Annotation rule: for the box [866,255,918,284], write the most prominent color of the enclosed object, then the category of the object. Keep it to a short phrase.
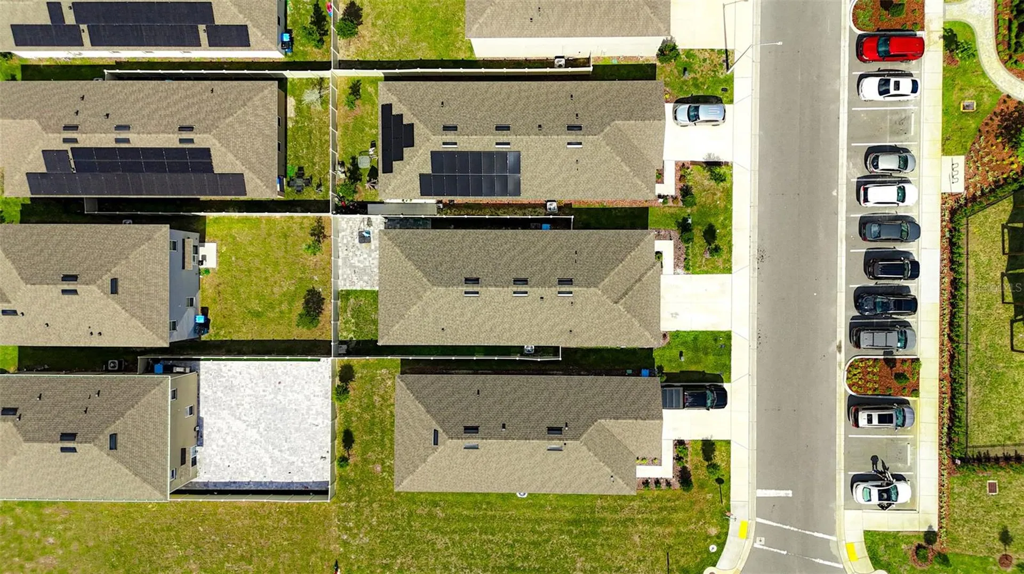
black car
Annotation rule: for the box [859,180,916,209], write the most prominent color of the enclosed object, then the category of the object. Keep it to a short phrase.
white car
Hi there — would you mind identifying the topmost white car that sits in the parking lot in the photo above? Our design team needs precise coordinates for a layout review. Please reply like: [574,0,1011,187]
[857,73,916,102]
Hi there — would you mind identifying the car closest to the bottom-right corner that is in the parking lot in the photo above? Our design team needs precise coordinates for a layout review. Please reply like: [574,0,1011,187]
[852,468,909,514]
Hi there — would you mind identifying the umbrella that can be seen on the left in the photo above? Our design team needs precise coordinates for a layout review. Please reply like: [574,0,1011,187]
[364,168,378,190]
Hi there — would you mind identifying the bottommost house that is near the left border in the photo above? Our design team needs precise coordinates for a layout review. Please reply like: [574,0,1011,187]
[0,371,202,503]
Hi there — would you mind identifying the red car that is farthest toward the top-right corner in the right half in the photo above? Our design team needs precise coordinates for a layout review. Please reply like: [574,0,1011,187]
[857,32,924,64]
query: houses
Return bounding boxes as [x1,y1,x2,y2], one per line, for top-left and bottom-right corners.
[0,223,200,348]
[378,80,669,200]
[394,375,667,494]
[0,371,202,503]
[465,0,671,56]
[0,80,285,198]
[378,229,662,348]
[0,0,286,57]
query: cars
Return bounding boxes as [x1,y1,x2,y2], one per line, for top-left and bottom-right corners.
[856,290,915,320]
[866,148,913,176]
[866,255,918,284]
[860,217,918,246]
[857,73,916,102]
[851,324,915,354]
[849,402,913,432]
[852,468,909,514]
[859,180,916,209]
[857,32,924,64]
[673,99,725,128]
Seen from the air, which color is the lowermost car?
white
